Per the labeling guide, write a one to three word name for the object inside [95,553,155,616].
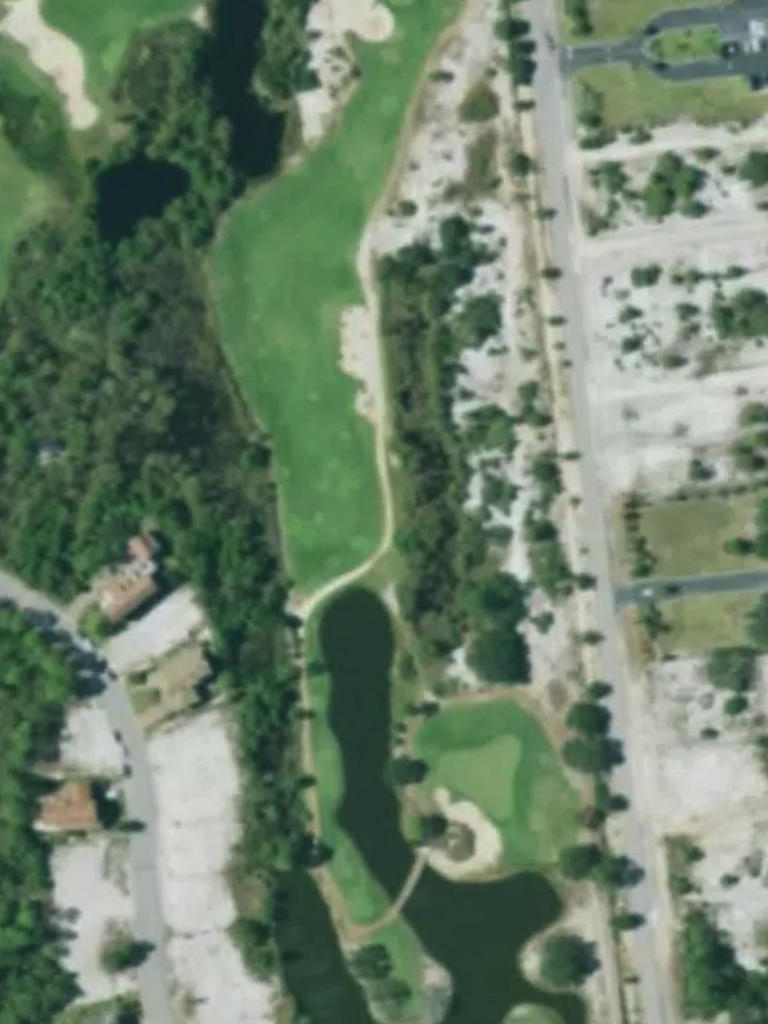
house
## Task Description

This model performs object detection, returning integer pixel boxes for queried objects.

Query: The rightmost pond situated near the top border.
[206,0,284,193]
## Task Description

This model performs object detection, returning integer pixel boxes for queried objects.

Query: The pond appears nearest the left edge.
[96,159,189,242]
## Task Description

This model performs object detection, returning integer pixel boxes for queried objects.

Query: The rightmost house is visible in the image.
[149,649,213,715]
